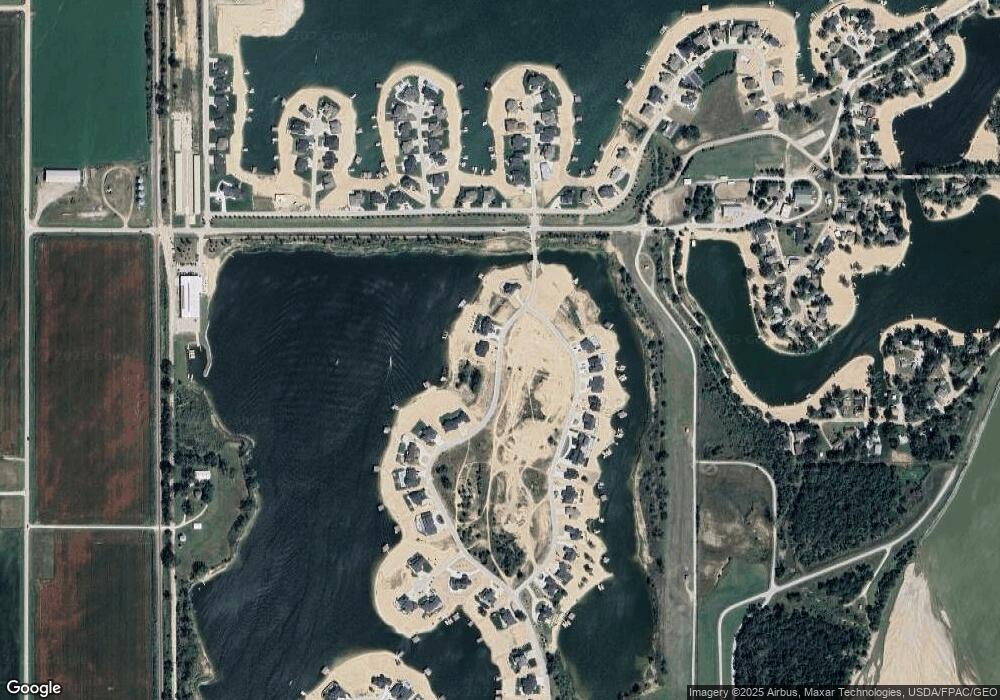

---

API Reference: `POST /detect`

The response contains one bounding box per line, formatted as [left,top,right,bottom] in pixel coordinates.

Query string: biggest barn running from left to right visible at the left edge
[46,170,80,183]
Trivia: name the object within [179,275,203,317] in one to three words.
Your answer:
building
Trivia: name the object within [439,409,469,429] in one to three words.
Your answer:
house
